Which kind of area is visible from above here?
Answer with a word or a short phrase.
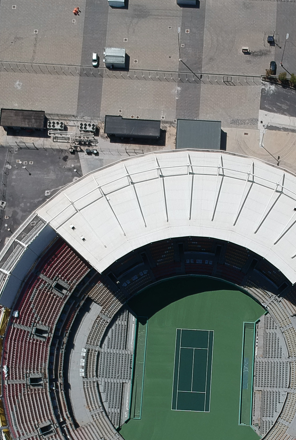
sports ground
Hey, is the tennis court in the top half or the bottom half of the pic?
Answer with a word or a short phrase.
bottom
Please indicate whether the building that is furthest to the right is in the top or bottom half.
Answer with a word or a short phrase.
top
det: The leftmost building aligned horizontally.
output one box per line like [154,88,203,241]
[0,108,46,131]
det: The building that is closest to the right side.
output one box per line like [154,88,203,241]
[177,120,221,149]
